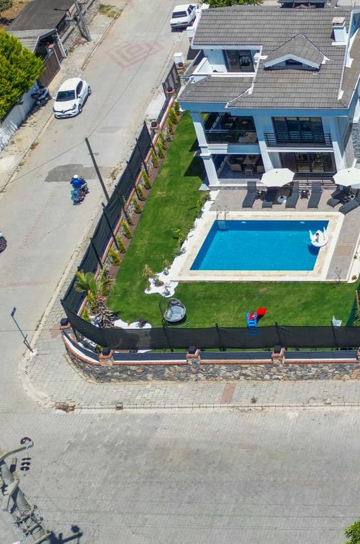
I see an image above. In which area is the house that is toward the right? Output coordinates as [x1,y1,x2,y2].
[173,2,360,188]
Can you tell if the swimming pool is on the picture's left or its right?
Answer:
right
